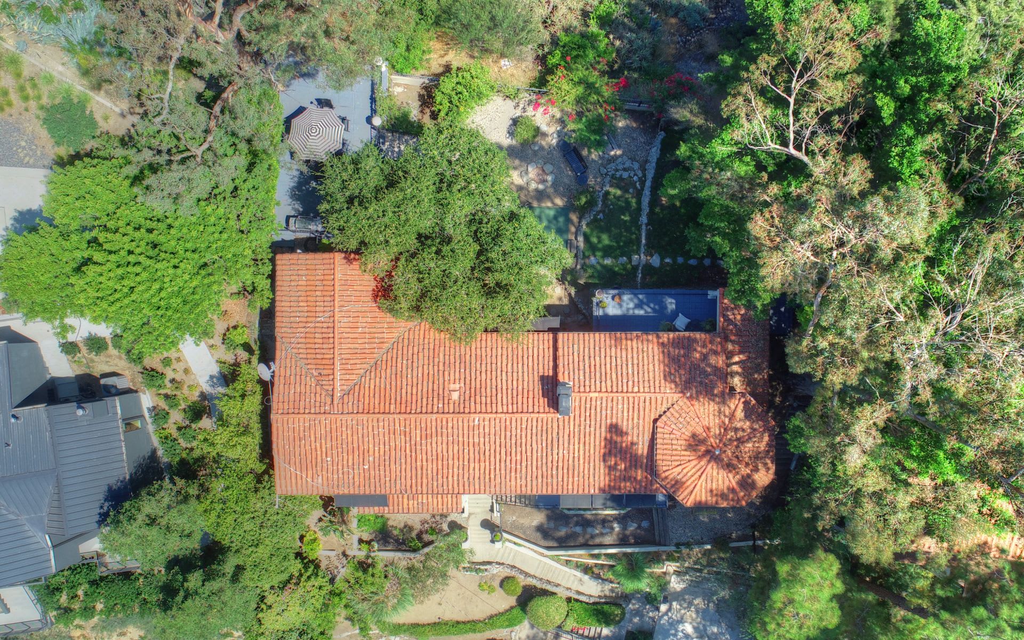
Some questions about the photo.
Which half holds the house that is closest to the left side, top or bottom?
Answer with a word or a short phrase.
bottom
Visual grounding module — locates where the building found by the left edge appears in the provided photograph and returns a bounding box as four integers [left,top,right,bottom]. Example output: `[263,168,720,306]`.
[0,340,159,588]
